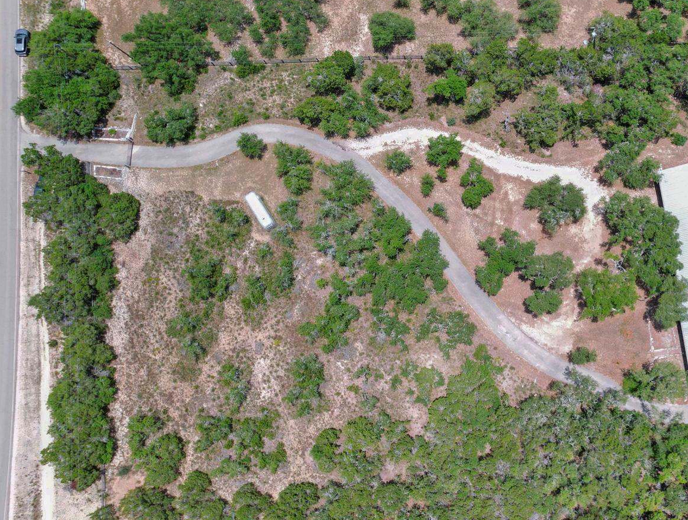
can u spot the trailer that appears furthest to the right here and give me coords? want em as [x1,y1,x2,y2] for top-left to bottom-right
[244,191,276,230]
